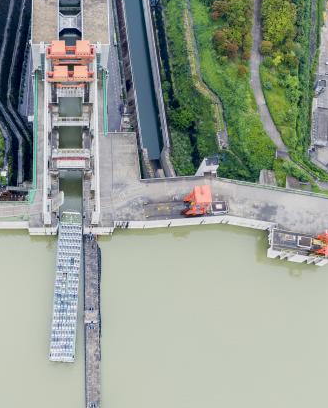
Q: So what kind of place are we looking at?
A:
port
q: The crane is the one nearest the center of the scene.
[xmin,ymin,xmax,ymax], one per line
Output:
[181,184,217,211]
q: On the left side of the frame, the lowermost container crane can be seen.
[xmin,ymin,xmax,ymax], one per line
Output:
[42,63,99,97]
